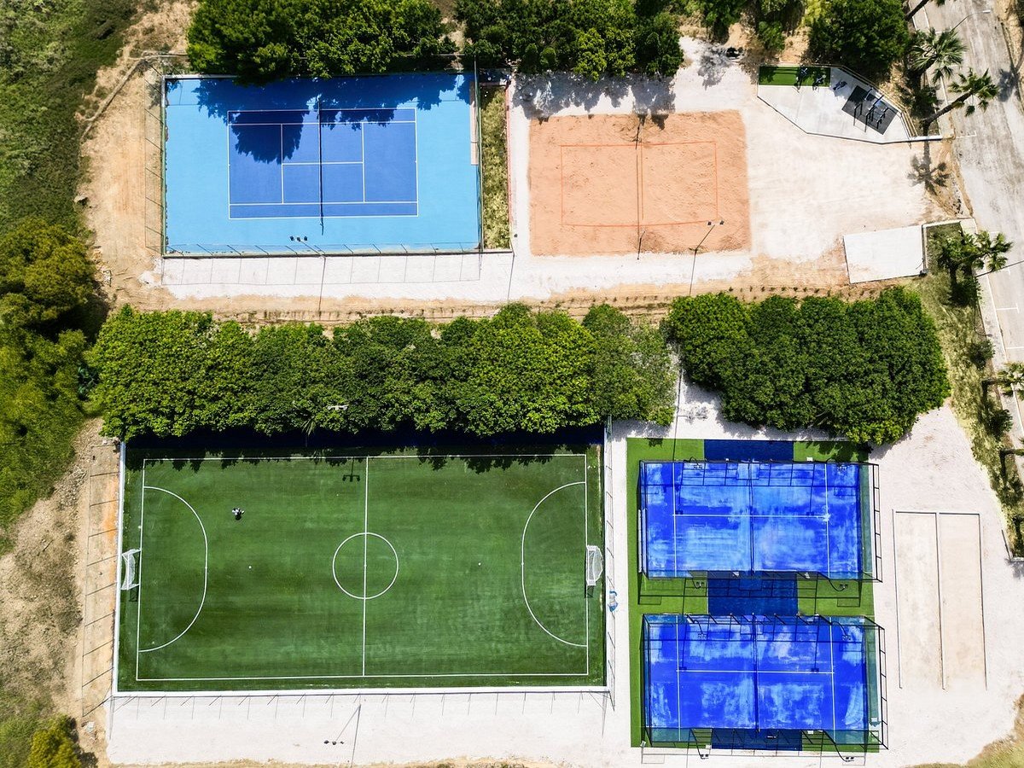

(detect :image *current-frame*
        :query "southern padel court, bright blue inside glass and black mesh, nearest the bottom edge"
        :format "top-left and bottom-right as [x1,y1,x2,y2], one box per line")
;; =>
[643,614,890,750]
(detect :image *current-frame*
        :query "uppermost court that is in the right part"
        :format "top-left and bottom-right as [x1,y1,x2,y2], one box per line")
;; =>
[530,110,750,255]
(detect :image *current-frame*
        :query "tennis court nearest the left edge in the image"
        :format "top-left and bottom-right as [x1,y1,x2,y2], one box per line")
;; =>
[165,72,479,254]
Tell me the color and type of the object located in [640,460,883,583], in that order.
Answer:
blue sports court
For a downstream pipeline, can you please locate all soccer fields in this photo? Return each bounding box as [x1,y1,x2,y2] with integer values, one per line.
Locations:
[116,418,606,692]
